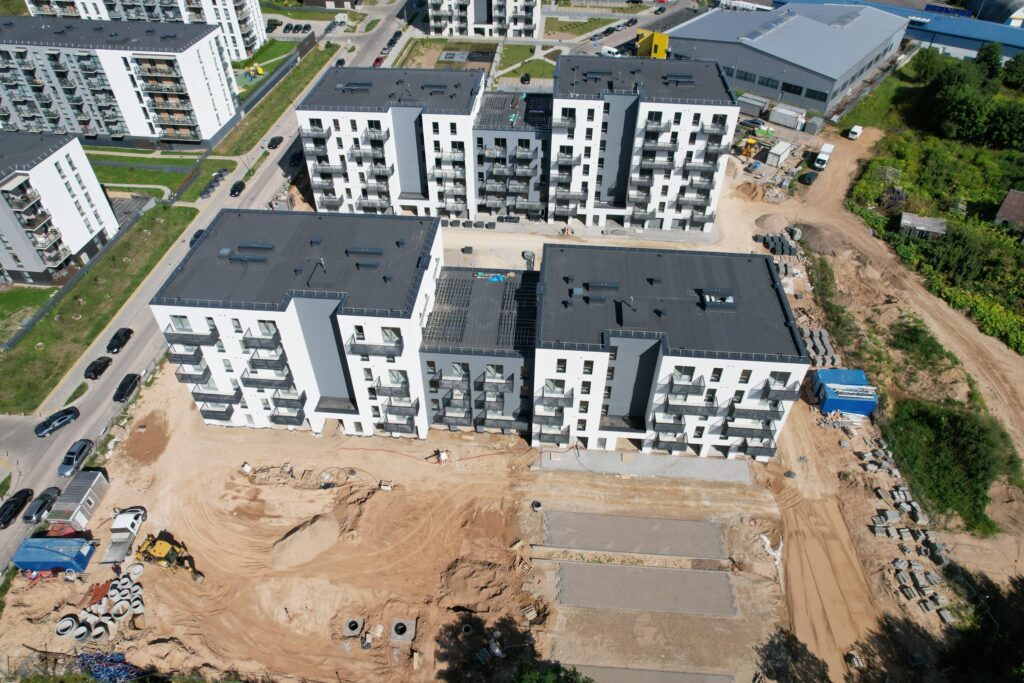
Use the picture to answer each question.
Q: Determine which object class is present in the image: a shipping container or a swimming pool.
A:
shipping container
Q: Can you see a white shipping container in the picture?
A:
Yes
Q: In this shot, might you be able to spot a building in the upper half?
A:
Yes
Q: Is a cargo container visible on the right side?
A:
Yes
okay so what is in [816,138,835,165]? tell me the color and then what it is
white vehicle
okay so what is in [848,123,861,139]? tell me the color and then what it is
white vehicle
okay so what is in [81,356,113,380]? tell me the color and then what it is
black car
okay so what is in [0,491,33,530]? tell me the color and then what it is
black car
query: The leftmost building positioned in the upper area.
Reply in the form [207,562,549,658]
[0,132,118,289]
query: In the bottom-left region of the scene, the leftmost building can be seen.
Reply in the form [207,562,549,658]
[47,472,111,536]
